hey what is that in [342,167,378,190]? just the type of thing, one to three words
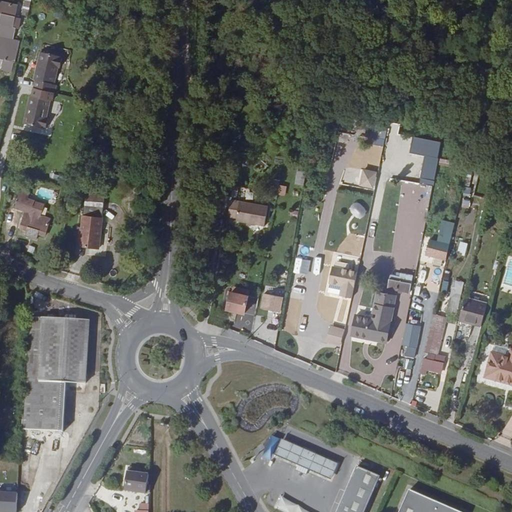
shed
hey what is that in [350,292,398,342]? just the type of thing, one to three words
house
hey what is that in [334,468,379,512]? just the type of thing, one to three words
building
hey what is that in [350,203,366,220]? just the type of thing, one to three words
gazebo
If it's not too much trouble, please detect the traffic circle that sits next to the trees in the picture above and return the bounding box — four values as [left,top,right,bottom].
[118,316,203,400]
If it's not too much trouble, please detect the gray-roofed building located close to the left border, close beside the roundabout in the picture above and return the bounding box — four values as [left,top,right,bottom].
[23,317,90,432]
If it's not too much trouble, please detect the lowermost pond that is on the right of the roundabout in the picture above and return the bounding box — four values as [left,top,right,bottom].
[236,383,298,433]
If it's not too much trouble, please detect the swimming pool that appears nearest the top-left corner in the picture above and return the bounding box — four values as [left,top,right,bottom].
[36,186,57,204]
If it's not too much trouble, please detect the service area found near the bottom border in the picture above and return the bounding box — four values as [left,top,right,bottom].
[244,426,360,512]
